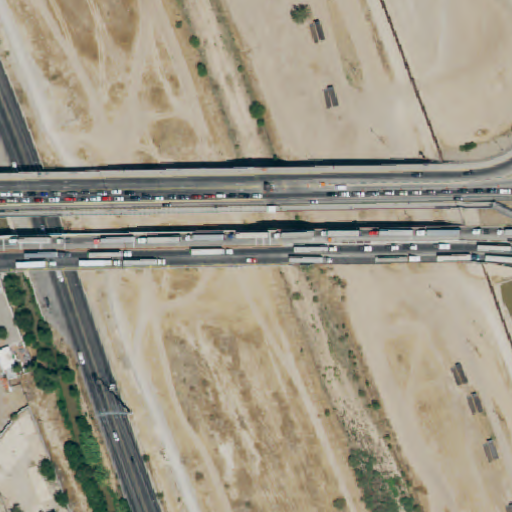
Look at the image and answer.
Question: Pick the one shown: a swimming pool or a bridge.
bridge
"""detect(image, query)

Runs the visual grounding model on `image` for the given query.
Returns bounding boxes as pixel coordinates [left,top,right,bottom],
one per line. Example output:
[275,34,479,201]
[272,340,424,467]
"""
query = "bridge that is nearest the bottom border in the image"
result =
[0,228,512,270]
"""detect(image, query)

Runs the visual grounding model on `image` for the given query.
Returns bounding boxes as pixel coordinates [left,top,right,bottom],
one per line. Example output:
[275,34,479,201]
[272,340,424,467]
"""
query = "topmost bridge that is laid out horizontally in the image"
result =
[0,150,512,217]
